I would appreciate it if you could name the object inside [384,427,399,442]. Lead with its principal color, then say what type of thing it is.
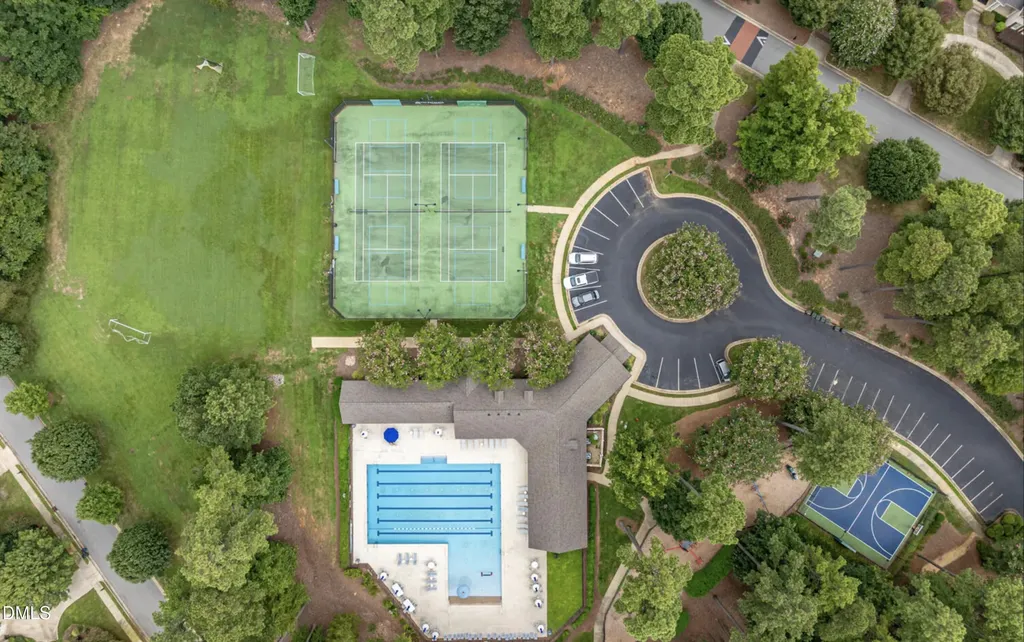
blue umbrella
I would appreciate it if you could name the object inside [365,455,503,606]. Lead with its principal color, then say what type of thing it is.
blue swimming pool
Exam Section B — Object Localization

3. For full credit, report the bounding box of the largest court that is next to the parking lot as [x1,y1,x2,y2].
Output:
[333,105,526,318]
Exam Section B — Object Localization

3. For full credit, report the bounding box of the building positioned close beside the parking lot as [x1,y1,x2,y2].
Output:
[339,333,632,553]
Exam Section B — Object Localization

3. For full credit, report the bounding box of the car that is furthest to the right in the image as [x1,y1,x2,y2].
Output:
[715,357,733,384]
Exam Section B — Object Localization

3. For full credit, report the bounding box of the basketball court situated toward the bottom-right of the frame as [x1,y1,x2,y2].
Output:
[797,453,935,568]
